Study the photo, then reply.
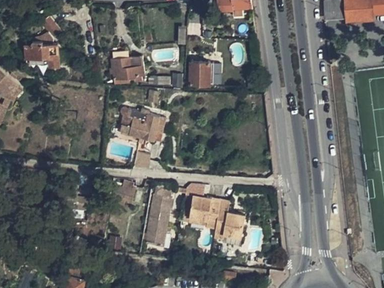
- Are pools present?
Yes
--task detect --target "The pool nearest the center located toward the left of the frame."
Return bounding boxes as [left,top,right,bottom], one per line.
[108,138,138,164]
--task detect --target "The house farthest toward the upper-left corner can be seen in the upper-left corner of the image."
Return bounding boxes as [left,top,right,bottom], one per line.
[24,16,61,68]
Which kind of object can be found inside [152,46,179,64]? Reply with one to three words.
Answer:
swimming pool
